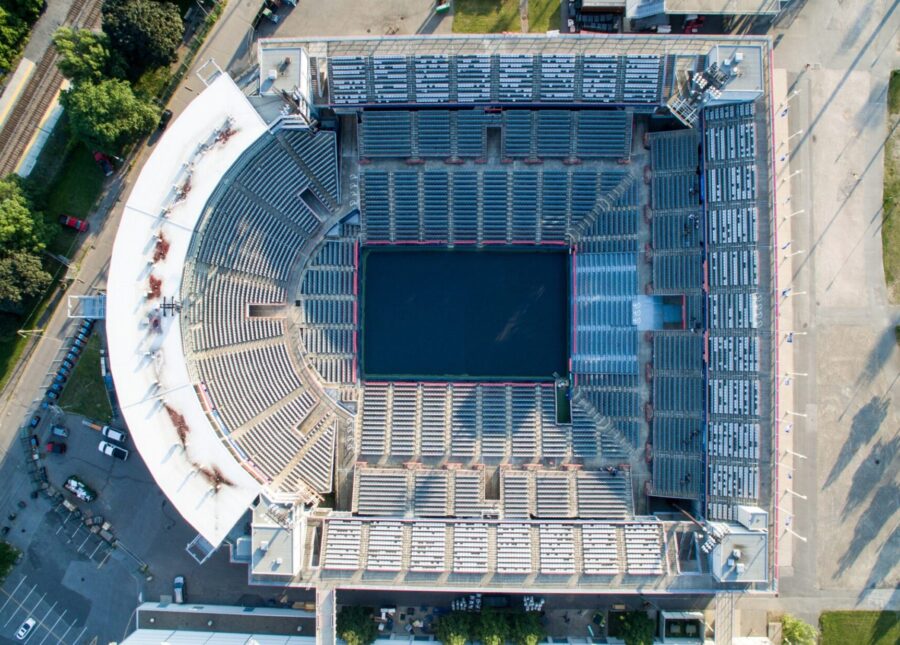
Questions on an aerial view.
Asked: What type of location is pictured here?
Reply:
sports ground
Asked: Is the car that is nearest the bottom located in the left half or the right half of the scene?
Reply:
left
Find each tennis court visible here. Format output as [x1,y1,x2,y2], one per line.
[359,246,572,380]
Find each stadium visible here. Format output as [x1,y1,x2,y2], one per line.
[64,40,781,591]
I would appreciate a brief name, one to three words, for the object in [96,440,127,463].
truck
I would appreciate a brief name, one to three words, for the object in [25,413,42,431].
car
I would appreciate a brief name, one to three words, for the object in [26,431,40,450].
vehicle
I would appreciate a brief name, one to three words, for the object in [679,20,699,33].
vehicle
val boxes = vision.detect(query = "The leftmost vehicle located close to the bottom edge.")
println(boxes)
[11,619,36,643]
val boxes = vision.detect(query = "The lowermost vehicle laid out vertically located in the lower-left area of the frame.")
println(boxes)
[171,577,184,605]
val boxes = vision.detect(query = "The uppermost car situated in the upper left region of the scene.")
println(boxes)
[156,106,175,131]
